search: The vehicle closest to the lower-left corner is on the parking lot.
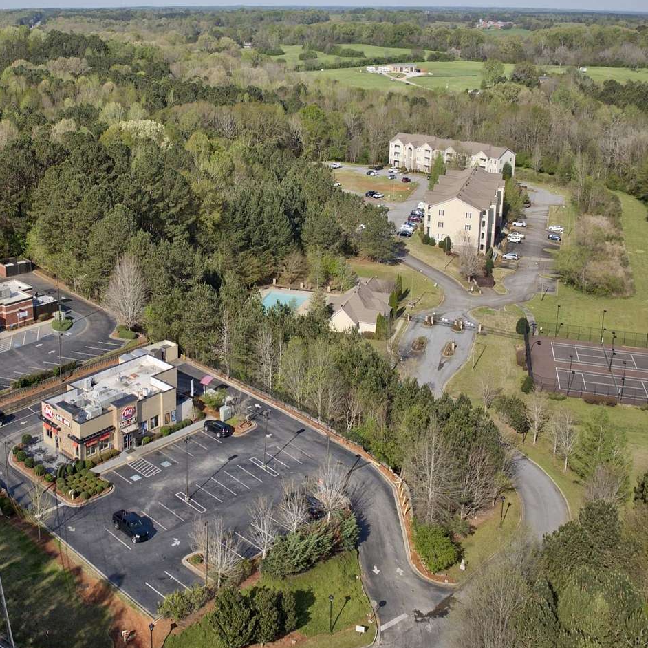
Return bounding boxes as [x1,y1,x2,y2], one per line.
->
[114,506,148,537]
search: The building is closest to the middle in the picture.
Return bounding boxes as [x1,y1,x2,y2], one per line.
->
[321,282,386,334]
